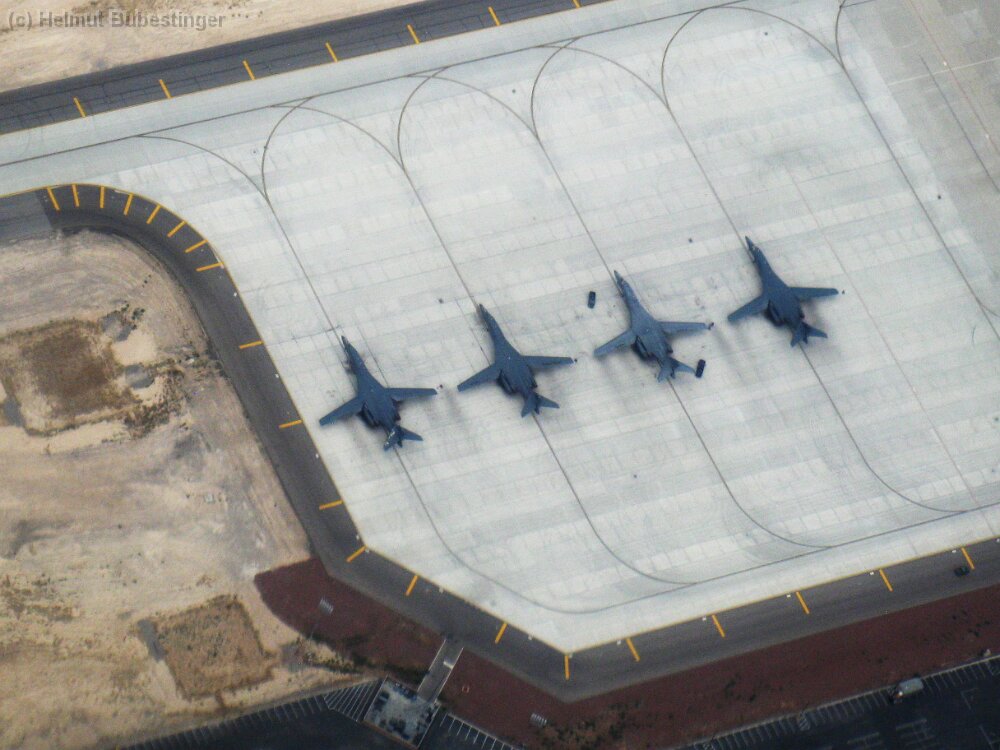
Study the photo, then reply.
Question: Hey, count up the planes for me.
4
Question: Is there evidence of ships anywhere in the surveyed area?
No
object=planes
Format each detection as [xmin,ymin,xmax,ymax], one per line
[728,237,840,345]
[596,270,710,381]
[459,304,576,416]
[319,337,438,449]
